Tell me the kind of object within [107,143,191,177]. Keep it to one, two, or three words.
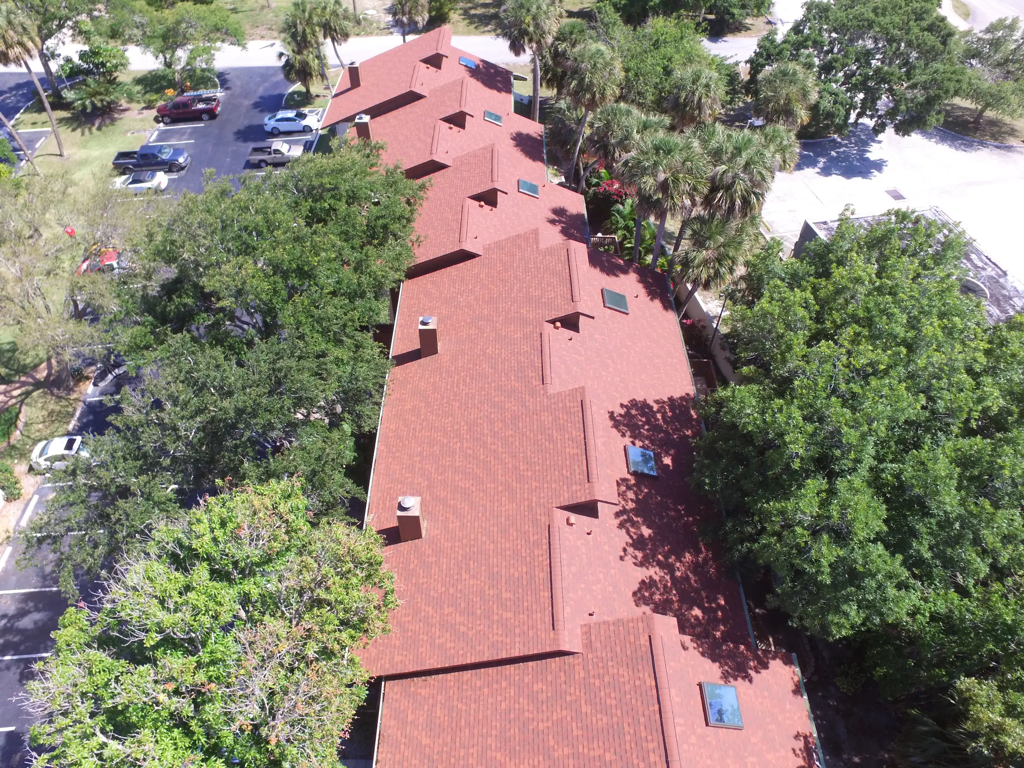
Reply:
truck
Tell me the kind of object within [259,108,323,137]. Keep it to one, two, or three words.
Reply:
car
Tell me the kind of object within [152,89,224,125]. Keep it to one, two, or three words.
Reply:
truck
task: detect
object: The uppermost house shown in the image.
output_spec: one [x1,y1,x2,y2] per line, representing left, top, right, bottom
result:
[320,27,522,146]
